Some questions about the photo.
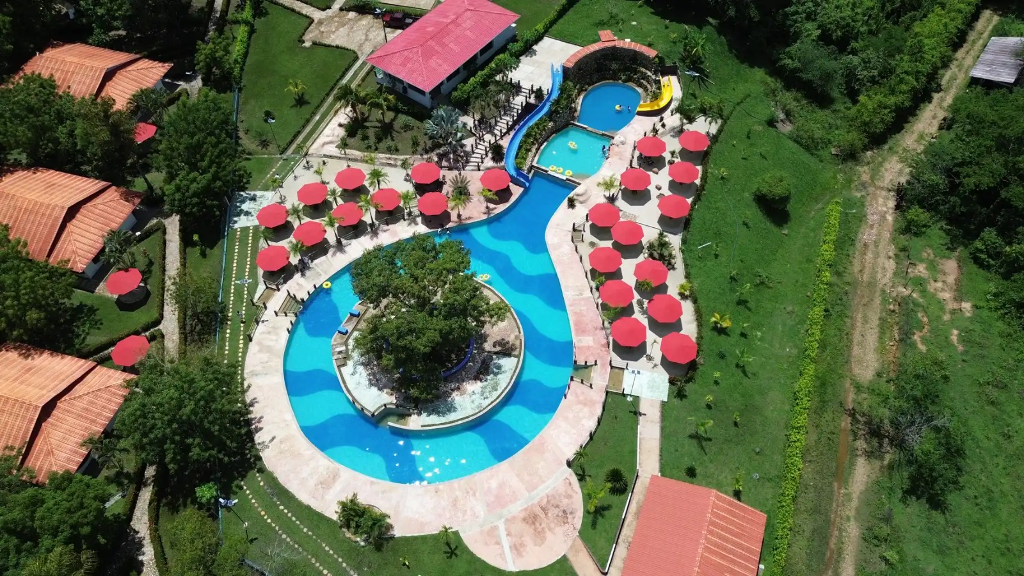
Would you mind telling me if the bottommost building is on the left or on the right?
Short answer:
right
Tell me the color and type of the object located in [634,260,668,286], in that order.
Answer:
red umbrella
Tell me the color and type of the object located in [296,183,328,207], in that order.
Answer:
red umbrella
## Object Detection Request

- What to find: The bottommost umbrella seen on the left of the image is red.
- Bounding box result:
[111,336,150,367]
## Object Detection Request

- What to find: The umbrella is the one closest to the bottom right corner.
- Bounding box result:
[659,333,697,364]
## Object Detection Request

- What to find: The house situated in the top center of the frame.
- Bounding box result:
[363,0,521,108]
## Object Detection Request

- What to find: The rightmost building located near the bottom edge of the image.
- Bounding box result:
[621,474,767,576]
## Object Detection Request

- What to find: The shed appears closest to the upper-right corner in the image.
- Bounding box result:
[963,36,1024,92]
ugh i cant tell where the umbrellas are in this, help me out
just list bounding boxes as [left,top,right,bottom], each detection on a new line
[679,132,708,154]
[599,281,633,308]
[668,162,699,185]
[411,163,441,186]
[256,205,289,229]
[480,169,511,192]
[133,123,161,145]
[647,295,683,323]
[658,195,690,219]
[621,169,651,192]
[371,189,402,213]
[587,247,622,274]
[292,221,327,246]
[611,221,644,246]
[296,183,328,207]
[610,318,646,348]
[334,169,365,192]
[636,137,666,158]
[256,247,290,272]
[659,333,697,364]
[417,193,449,216]
[634,260,668,286]
[333,203,364,227]
[111,336,150,367]
[587,204,620,228]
